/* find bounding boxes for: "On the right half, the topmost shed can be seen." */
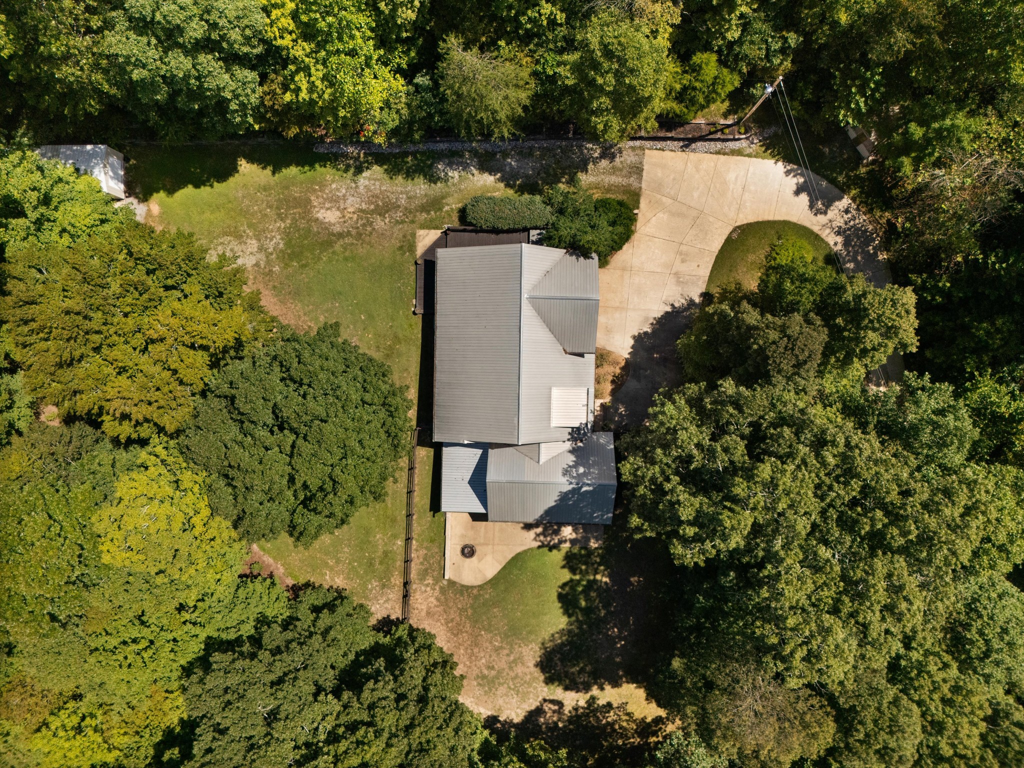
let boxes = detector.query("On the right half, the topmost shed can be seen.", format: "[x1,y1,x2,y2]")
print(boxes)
[836,123,876,165]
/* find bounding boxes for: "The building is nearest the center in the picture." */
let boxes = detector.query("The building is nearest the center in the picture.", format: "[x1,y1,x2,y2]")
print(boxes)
[432,243,616,526]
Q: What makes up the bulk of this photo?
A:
trees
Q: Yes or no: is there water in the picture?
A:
No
